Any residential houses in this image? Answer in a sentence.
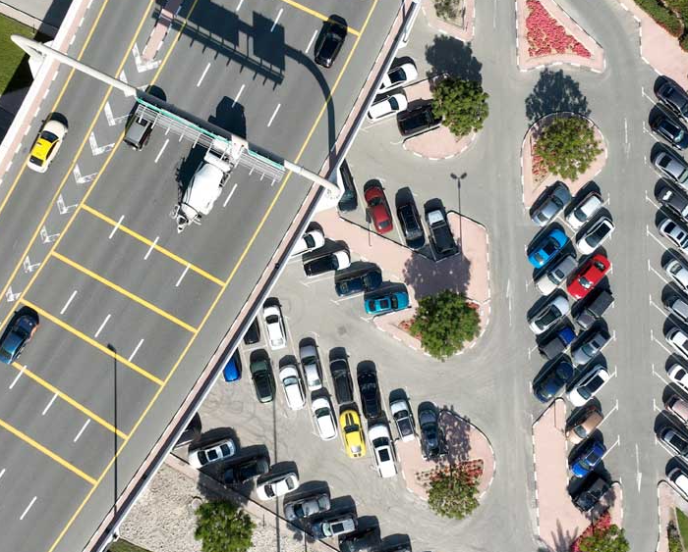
No, no residential house is visible in the scene.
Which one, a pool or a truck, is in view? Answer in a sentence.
I can see a truck in this picture.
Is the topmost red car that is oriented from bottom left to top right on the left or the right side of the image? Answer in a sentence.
You can find the topmost red car that is oriented from bottom left to top right on the right side of the picture.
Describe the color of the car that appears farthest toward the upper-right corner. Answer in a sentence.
The car that appears farthest toward the upper-right corner is black.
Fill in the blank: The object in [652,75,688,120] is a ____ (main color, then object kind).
black car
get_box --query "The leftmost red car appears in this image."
[363,183,396,235]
